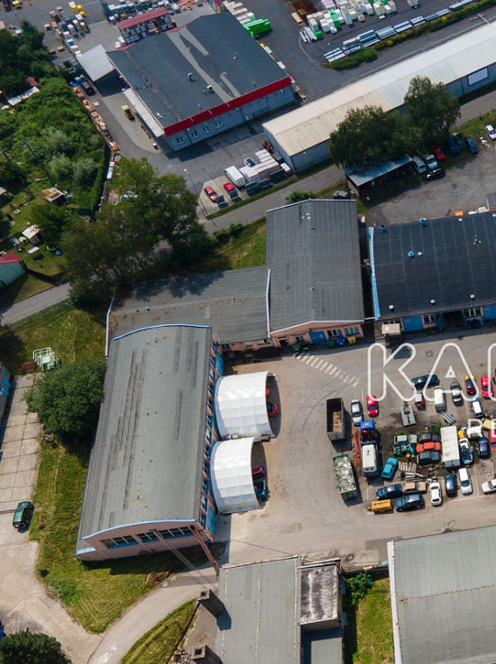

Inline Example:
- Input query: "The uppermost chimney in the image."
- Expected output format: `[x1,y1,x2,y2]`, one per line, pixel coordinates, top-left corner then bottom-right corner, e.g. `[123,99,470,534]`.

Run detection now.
[194,586,223,623]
